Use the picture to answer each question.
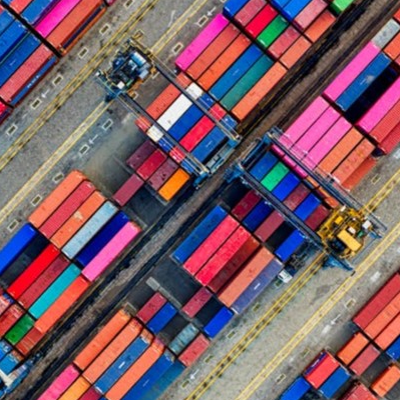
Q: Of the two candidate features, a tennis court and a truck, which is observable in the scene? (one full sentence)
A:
Looking from above, you can make out a truck.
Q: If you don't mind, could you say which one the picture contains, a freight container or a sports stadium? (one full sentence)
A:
Looking from above, you can make out a freight container.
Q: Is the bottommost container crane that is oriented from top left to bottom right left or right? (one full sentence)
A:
The bottommost container crane that is oriented from top left to bottom right is on the right side of the image.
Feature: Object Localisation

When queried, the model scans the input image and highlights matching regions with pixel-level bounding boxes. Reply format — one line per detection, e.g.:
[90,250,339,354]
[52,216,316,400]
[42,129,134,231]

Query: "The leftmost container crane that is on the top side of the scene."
[89,27,250,186]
